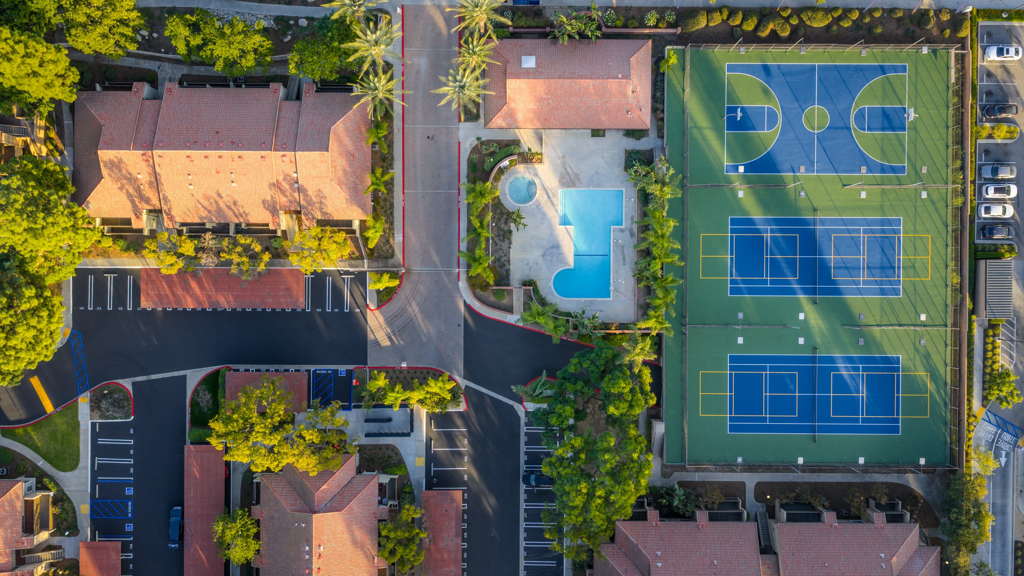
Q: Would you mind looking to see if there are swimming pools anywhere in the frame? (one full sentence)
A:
Yes, you can see a swimming pool in this photo.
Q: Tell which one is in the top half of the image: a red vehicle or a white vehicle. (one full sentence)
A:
The one visible in the top half of the image is a white vehicle.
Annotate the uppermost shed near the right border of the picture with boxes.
[968,260,1012,319]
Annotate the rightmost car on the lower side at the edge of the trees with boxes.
[523,472,558,493]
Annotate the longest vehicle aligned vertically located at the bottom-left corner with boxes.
[166,506,184,549]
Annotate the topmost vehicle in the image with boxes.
[983,43,1021,61]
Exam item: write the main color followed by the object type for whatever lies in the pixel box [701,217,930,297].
blue tennis court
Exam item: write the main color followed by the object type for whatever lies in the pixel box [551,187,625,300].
blue swimming pool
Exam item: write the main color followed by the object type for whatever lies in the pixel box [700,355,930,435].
blue tennis court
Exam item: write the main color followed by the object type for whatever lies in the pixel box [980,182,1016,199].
white car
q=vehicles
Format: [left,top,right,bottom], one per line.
[983,43,1021,61]
[523,472,558,493]
[166,506,184,549]
[981,102,1018,119]
[978,163,1016,180]
[981,223,1015,240]
[976,202,1013,219]
[980,182,1016,199]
